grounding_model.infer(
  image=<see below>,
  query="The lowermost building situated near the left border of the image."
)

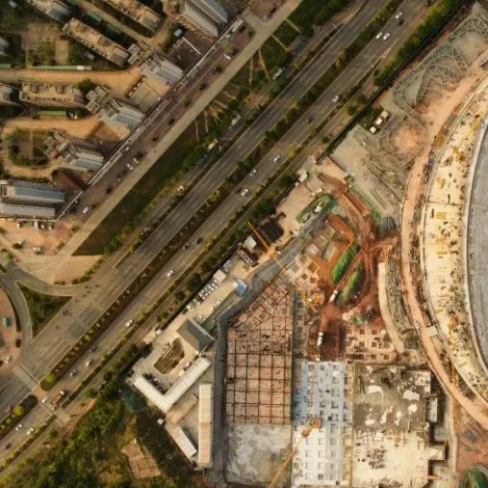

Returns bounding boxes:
[0,180,65,218]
